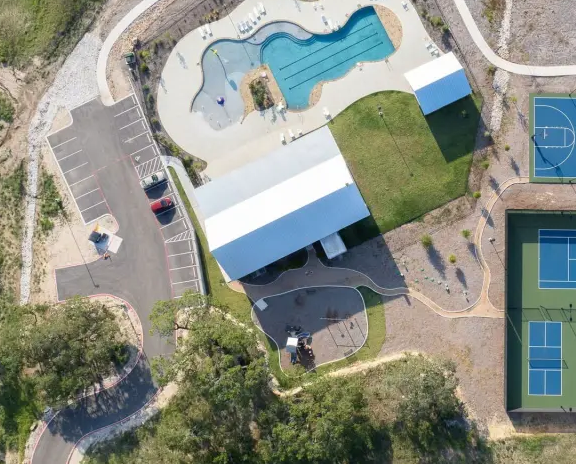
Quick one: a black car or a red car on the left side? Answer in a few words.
red car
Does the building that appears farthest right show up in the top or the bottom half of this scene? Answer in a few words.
top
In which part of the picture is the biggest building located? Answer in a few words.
center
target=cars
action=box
[147,195,174,213]
[137,171,166,190]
